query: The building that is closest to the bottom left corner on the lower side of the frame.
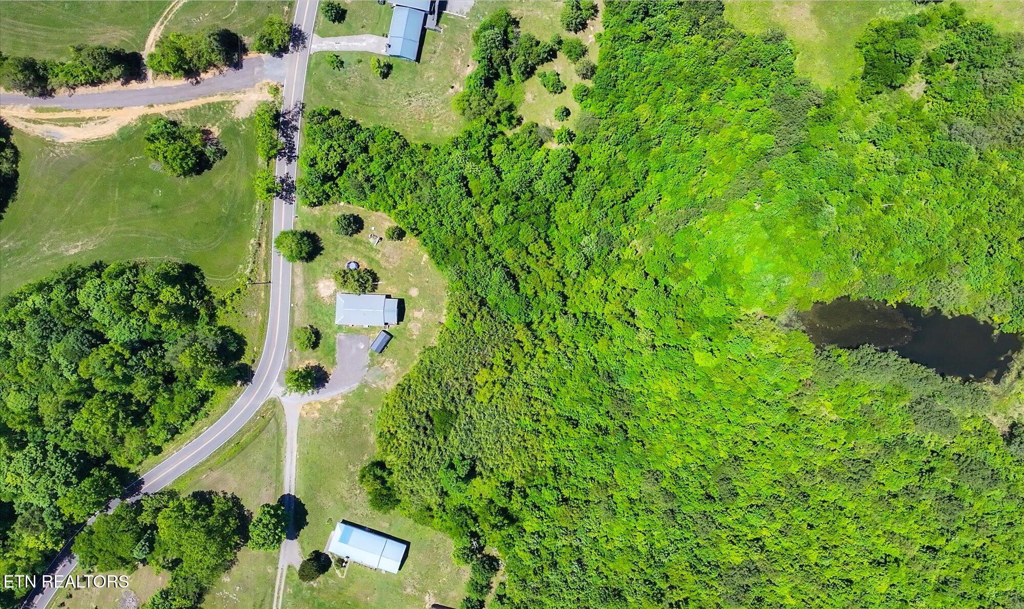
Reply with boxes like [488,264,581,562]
[329,522,406,574]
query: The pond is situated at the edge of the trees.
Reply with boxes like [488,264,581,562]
[794,296,1021,381]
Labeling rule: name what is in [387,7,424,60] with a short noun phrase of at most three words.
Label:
building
